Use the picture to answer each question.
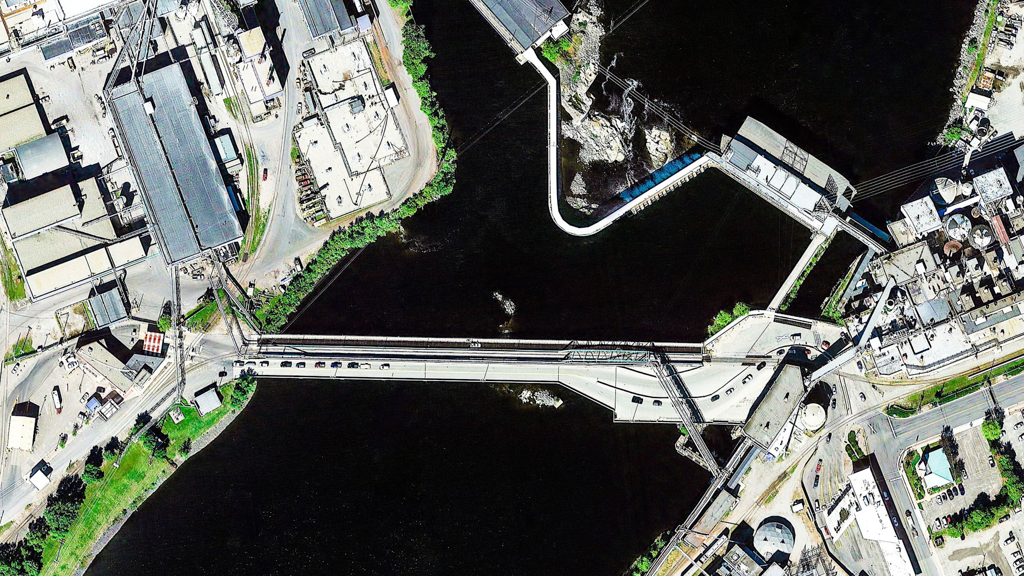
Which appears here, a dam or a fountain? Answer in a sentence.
It is a dam that can be seen here.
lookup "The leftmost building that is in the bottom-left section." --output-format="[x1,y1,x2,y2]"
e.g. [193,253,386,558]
[8,415,36,451]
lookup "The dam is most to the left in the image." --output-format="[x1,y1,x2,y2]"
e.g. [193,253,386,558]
[520,48,715,238]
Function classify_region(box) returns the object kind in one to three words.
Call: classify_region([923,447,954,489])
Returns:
house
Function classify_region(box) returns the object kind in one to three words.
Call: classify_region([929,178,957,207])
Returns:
storage tank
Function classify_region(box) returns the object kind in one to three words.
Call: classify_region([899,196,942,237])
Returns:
building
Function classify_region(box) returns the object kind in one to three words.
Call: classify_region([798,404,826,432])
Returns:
storage tank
